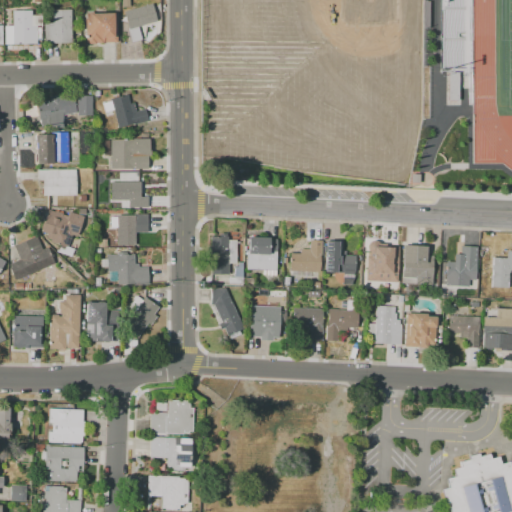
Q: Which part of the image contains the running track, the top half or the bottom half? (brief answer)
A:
top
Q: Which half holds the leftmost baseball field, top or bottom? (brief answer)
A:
top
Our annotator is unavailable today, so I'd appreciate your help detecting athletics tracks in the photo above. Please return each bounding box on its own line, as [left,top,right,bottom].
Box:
[473,0,512,170]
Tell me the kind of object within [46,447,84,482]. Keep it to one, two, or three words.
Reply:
house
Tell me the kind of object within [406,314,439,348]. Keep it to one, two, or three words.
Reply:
house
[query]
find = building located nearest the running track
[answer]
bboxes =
[450,72,462,100]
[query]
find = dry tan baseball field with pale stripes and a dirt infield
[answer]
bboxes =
[204,0,422,184]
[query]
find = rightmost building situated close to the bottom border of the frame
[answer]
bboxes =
[448,454,512,512]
